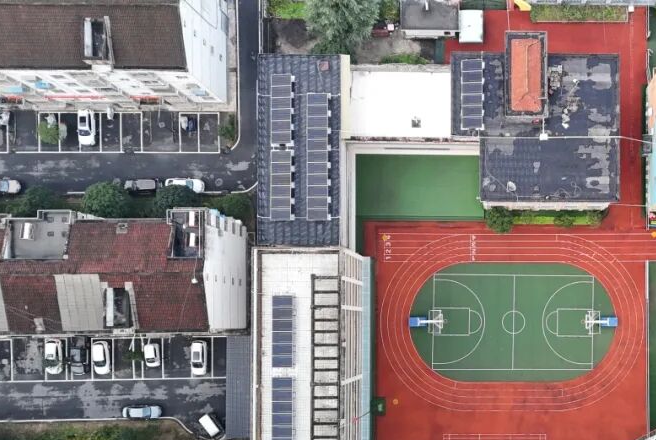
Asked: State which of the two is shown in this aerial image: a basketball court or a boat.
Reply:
basketball court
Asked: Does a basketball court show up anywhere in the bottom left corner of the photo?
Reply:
No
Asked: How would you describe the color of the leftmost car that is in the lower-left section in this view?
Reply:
white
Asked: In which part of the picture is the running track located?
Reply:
bottom right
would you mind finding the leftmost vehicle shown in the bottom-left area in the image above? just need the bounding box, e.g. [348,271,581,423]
[43,338,64,376]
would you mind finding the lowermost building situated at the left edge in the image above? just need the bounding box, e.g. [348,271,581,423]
[0,204,247,334]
